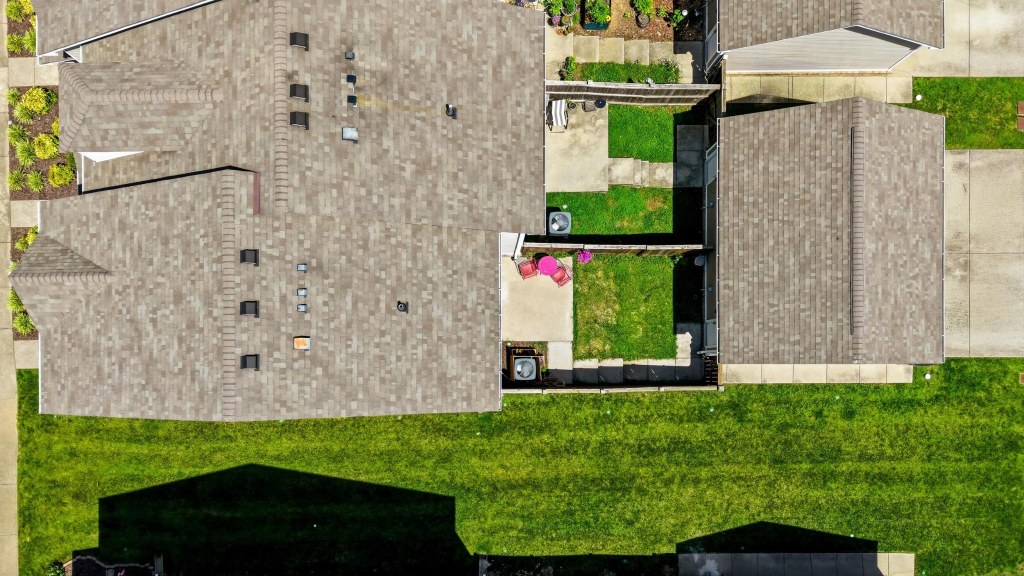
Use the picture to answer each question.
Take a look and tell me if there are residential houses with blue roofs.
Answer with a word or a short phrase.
No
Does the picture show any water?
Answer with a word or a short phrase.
No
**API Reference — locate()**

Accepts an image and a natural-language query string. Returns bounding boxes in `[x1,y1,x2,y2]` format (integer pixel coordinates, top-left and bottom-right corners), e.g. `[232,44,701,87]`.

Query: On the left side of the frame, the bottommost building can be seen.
[9,172,503,421]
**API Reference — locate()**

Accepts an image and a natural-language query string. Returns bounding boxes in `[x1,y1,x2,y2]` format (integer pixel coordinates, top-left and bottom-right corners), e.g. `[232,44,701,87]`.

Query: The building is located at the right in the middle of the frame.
[683,97,946,364]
